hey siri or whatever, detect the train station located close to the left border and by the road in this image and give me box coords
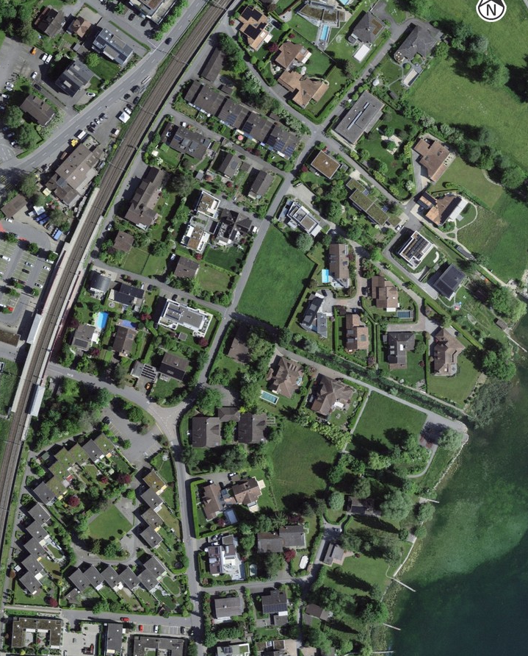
[11,184,105,441]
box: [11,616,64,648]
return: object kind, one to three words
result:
house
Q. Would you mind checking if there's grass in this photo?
Yes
